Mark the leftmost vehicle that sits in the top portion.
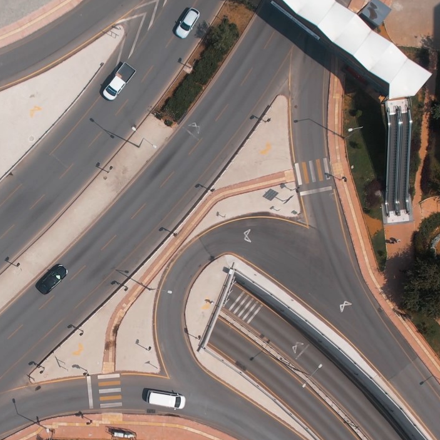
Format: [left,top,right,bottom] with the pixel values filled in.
[104,61,138,100]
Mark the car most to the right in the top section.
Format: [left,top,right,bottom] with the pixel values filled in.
[175,4,202,40]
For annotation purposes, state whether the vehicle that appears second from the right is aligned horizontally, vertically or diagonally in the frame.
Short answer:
horizontally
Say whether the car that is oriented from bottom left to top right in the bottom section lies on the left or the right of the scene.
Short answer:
left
